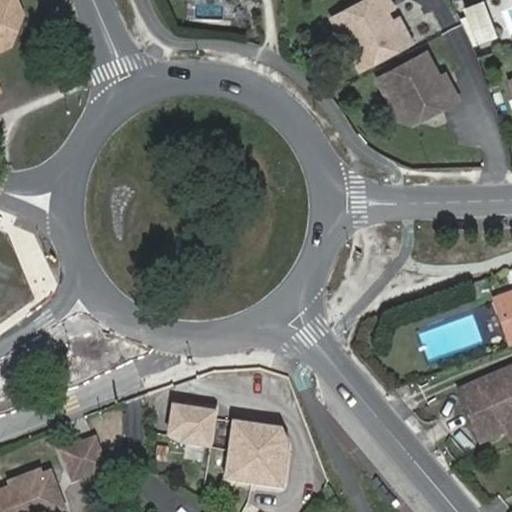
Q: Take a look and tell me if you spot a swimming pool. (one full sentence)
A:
Yes, looking at the shot, I can spot a swimming pool.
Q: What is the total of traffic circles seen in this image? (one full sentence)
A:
The picture shows 1 traffic circle.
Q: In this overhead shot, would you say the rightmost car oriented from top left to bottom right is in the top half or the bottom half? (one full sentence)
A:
Seen from above, the rightmost car oriented from top left to bottom right lies in the bottom half of the view.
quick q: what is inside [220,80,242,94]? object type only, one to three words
vehicle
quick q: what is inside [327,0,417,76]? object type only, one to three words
house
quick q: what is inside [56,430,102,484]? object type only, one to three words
house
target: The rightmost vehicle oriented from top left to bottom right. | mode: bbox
[336,384,357,407]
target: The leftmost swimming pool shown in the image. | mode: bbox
[195,4,224,19]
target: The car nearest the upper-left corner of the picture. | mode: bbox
[168,66,190,78]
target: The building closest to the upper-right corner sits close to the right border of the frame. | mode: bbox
[461,2,498,47]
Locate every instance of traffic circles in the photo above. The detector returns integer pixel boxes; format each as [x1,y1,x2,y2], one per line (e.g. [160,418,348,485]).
[48,60,346,358]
